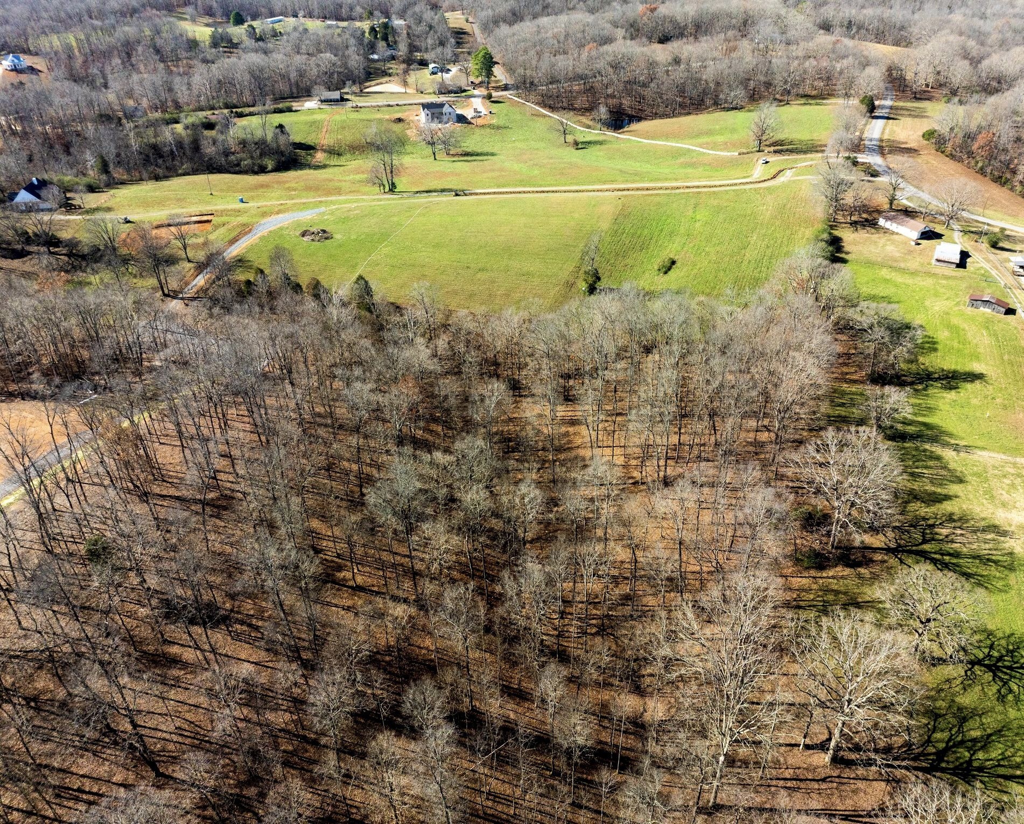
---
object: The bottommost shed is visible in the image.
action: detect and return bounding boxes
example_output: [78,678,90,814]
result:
[967,293,1012,315]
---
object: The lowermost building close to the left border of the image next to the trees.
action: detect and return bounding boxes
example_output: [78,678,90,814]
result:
[1,173,68,213]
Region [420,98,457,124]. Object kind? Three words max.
house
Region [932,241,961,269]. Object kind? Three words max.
barn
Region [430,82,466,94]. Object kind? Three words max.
house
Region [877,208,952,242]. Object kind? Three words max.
building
